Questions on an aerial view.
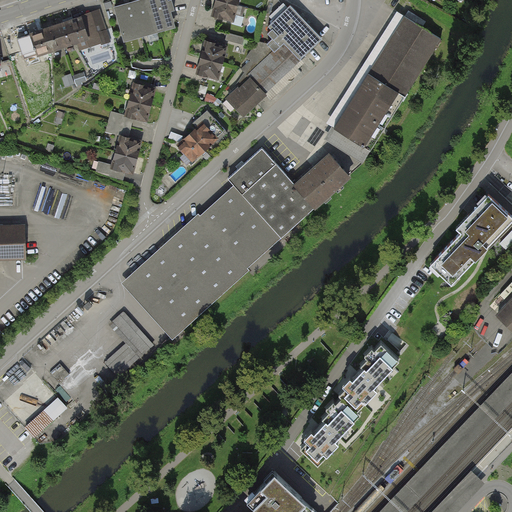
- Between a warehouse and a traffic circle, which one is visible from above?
warehouse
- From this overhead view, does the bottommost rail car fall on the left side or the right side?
right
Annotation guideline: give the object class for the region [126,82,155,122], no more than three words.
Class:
house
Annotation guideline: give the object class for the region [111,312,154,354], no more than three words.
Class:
shed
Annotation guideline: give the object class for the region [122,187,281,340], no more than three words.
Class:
warehouse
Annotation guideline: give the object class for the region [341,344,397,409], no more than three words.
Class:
building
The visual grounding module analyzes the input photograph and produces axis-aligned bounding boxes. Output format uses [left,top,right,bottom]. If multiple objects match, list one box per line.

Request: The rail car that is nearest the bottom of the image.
[354,484,386,512]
